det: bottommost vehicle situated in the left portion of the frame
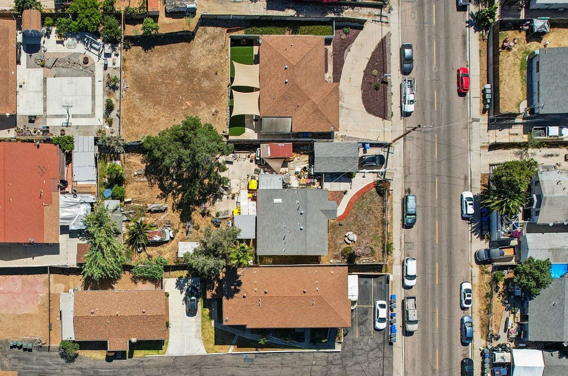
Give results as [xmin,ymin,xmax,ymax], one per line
[185,287,199,315]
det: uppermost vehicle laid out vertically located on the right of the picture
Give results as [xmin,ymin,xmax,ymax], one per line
[400,42,414,75]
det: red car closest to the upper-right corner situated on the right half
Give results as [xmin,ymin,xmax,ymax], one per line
[456,68,471,96]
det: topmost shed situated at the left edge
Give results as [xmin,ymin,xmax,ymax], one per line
[22,10,43,36]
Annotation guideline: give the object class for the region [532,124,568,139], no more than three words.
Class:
vehicle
